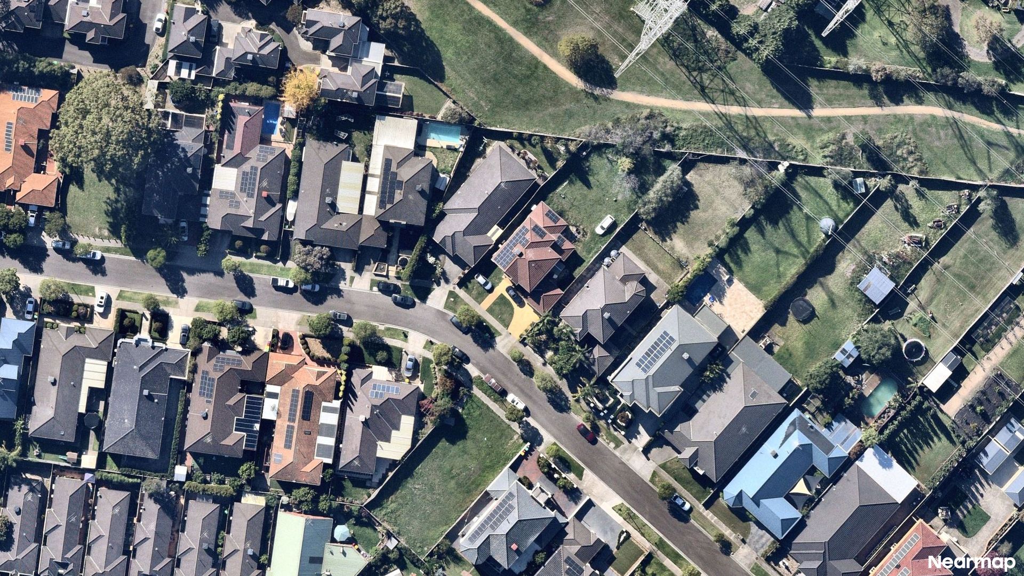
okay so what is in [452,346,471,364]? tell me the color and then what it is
black car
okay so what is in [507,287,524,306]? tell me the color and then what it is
black car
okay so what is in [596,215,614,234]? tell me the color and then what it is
white car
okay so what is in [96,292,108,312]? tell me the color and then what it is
white vehicle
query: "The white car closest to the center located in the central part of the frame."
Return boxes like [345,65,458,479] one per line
[475,273,492,290]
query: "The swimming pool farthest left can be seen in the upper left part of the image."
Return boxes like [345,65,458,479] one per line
[261,101,282,136]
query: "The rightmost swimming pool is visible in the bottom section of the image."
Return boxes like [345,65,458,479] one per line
[859,377,900,419]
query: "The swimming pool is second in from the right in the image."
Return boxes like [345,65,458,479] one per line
[685,272,718,308]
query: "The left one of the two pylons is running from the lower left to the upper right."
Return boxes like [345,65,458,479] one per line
[616,0,714,76]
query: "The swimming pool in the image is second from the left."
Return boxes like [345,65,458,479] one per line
[426,122,462,145]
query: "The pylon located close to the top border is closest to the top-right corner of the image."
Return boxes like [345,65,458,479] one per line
[822,0,863,37]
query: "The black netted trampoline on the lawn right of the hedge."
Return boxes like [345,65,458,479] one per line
[790,296,815,322]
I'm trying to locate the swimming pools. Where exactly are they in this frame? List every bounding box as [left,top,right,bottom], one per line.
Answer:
[685,272,718,308]
[859,377,900,419]
[261,101,282,136]
[426,122,462,145]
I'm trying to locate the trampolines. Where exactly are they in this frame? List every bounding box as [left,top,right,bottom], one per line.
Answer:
[903,339,925,361]
[790,296,815,322]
